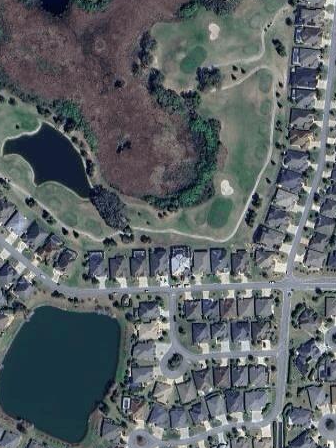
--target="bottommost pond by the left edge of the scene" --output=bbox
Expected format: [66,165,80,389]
[4,123,92,199]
